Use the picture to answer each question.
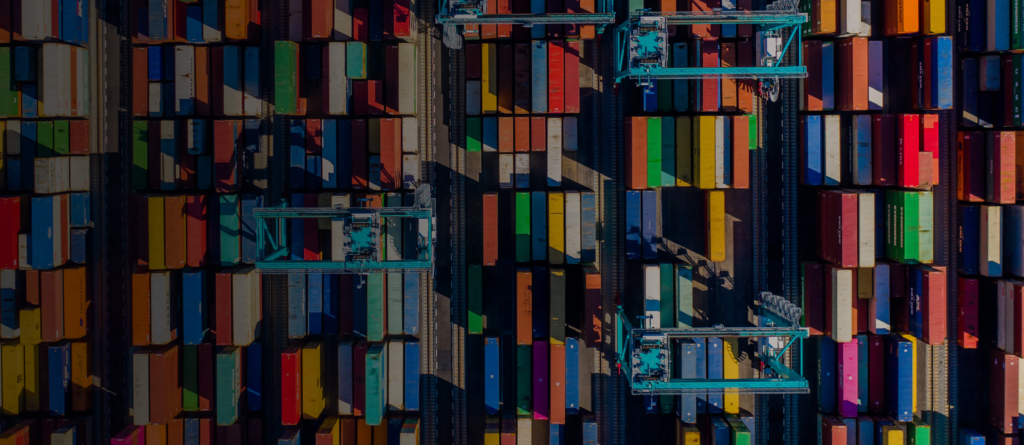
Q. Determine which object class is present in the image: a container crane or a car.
container crane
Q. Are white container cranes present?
No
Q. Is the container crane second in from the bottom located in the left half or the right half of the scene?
left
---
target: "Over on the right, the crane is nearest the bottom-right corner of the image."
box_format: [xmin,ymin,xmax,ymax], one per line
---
[613,285,815,413]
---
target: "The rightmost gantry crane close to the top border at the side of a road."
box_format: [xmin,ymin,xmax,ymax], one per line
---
[611,0,812,105]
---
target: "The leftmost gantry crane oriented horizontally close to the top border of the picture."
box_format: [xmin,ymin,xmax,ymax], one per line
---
[433,0,616,56]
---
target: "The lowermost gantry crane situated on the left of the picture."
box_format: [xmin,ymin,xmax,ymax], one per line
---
[253,181,439,293]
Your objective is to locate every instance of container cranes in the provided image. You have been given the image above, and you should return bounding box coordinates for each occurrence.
[253,181,439,293]
[613,285,815,413]
[433,0,616,56]
[611,0,812,105]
